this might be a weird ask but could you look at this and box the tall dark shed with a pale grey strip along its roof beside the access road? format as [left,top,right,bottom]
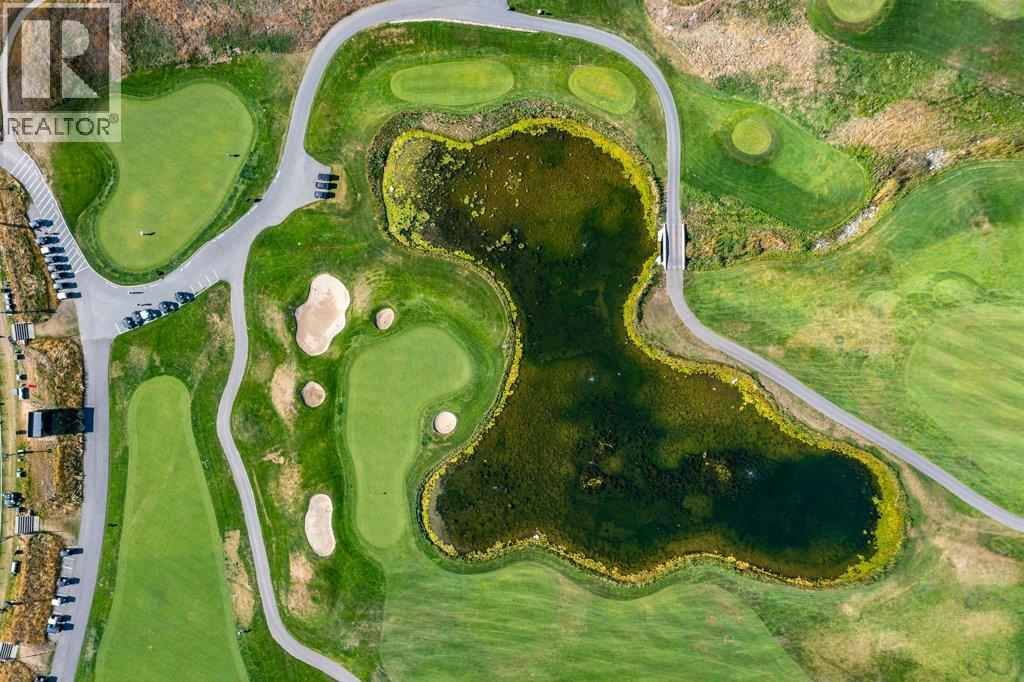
[27,409,62,438]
